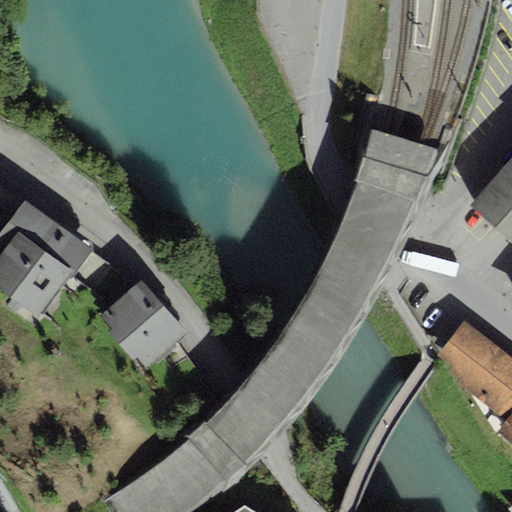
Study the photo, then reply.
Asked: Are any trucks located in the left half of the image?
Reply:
No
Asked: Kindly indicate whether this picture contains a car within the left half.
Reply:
No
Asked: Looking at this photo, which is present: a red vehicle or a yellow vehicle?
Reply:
red vehicle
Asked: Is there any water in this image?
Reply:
Yes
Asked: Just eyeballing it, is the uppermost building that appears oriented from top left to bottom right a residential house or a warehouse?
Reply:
residential house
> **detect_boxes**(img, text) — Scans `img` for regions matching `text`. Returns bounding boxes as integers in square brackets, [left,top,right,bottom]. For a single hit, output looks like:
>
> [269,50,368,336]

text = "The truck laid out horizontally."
[401,250,460,276]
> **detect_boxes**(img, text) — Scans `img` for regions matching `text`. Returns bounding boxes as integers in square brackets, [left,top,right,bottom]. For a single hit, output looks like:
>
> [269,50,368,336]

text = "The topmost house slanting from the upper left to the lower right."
[11,201,92,274]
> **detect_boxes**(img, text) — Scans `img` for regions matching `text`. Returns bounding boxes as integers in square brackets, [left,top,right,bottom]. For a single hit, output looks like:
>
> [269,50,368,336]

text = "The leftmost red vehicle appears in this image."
[465,212,481,230]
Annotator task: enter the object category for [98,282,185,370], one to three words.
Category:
house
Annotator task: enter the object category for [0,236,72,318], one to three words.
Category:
house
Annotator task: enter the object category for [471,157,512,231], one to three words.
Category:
building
